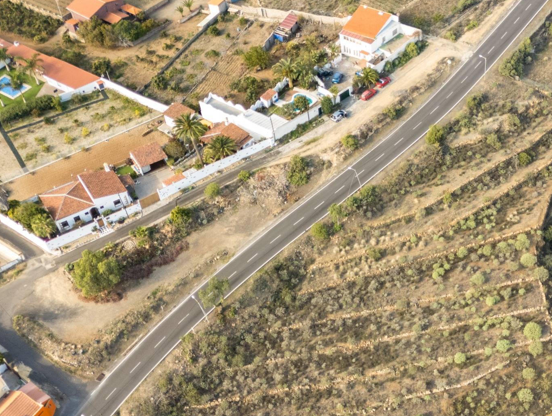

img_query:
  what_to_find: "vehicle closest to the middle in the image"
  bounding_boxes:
[327,105,350,123]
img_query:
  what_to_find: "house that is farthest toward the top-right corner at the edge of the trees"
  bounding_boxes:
[340,3,414,62]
